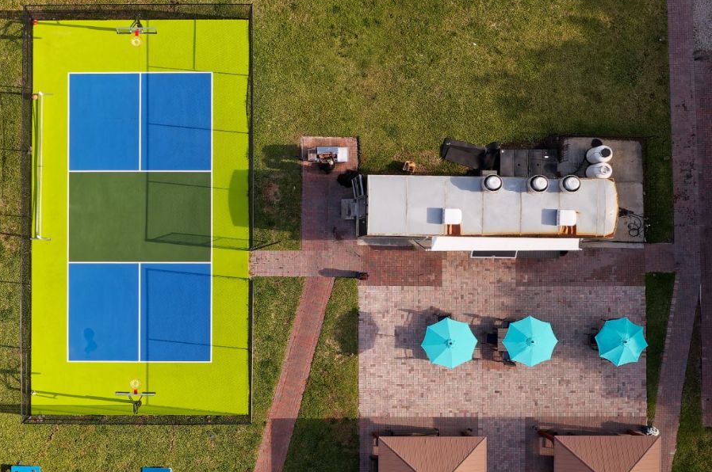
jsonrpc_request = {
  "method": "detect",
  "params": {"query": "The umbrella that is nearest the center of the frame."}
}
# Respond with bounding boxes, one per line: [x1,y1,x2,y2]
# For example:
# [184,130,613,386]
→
[419,313,478,371]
